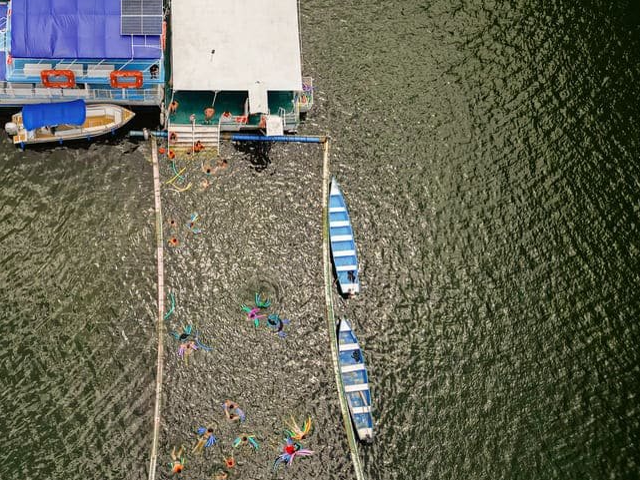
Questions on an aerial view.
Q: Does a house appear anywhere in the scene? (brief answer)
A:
No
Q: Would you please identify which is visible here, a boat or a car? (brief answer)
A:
boat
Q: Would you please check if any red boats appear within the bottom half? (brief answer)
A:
No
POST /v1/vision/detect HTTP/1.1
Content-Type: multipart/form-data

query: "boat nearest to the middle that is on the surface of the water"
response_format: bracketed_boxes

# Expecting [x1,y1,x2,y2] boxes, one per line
[330,176,359,299]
